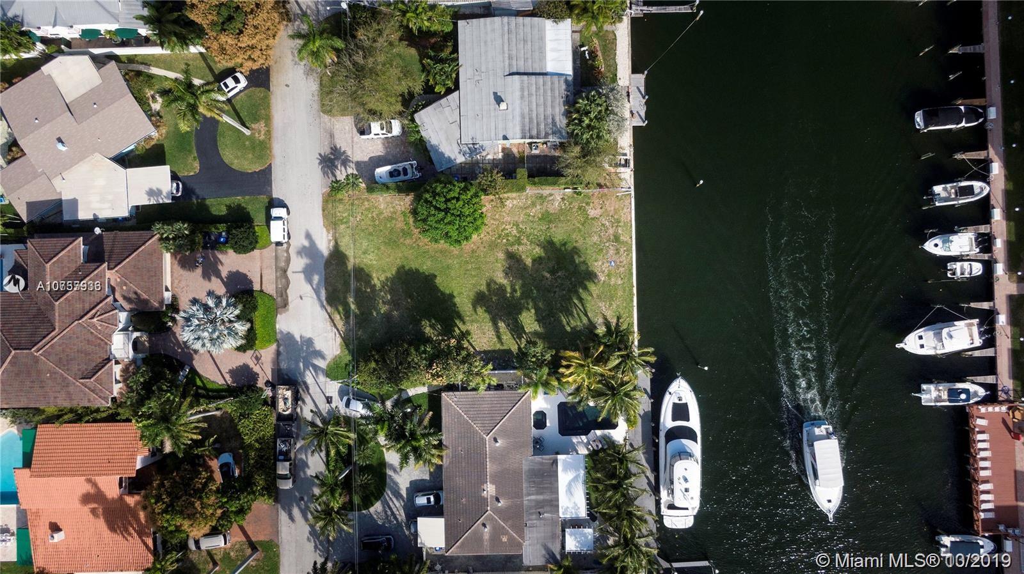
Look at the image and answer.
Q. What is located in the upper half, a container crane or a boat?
boat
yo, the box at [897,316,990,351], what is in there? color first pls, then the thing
white boat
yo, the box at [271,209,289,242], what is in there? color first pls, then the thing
white car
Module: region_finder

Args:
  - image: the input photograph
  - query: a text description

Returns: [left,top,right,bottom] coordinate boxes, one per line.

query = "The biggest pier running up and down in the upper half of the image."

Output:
[633,74,646,125]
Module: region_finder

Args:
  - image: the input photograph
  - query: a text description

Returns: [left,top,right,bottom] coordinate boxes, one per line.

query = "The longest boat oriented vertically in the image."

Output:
[657,375,704,536]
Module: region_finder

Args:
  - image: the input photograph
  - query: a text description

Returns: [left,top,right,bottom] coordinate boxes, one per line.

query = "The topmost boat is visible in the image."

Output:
[907,107,985,130]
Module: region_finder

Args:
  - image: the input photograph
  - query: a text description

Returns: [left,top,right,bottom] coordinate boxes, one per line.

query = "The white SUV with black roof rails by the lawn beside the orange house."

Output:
[191,531,230,551]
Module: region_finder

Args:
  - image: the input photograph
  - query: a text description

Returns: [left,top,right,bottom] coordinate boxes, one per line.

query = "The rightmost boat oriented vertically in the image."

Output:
[801,416,845,522]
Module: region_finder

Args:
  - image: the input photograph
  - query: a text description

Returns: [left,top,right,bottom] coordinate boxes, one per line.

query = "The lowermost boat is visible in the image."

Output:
[933,535,998,557]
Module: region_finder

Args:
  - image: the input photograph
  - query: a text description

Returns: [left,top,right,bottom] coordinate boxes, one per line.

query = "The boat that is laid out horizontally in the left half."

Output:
[372,161,425,182]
